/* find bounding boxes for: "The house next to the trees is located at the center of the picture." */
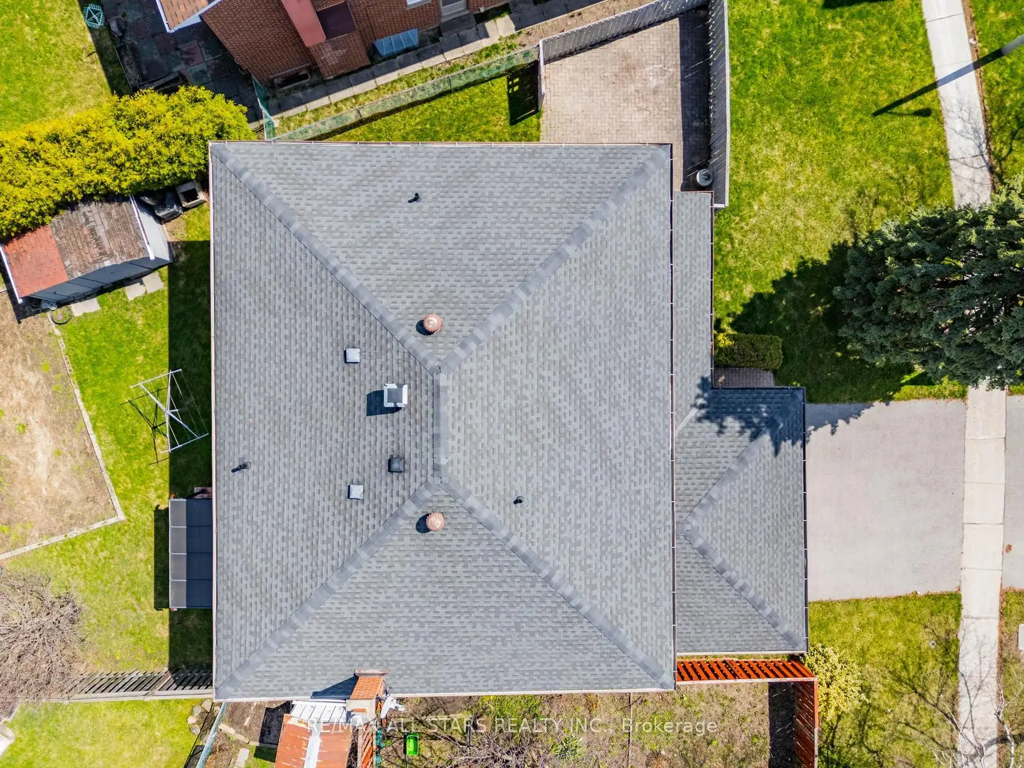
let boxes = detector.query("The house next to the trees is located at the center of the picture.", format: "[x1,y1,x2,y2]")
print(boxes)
[207,139,811,736]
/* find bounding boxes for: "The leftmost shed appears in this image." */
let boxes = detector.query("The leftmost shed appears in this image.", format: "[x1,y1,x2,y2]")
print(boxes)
[0,183,168,302]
